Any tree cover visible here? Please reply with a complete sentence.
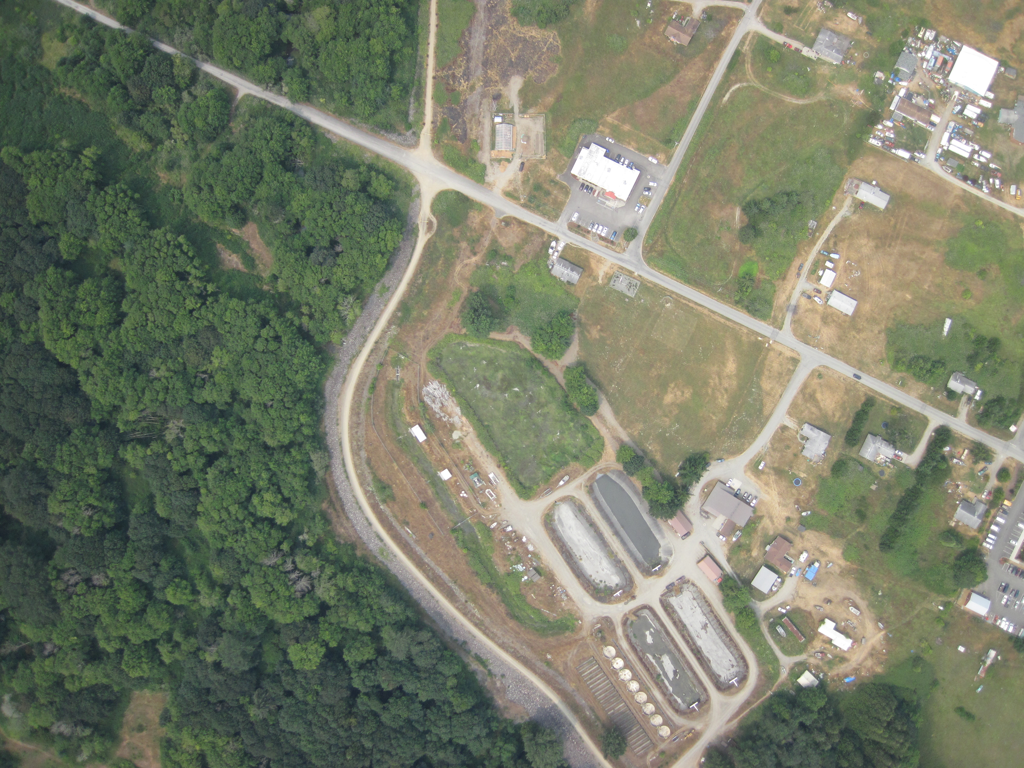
Yes, the picture does contain tree cover.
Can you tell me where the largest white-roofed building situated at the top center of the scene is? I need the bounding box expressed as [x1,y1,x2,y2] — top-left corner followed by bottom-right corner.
[571,143,640,204]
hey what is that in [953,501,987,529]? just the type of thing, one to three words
house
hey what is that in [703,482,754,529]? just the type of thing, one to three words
building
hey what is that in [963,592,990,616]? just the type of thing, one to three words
shed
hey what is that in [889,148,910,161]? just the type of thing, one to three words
vehicle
